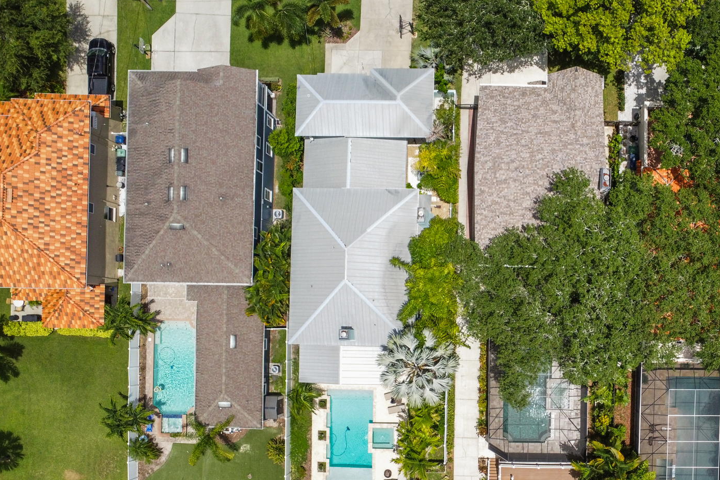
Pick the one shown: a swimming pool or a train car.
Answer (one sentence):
There is a swimming pool in the scene.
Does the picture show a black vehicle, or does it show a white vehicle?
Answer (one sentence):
Of the two, only a black vehicle appears.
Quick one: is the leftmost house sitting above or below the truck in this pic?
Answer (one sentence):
You can see the leftmost house below the truck in the frame.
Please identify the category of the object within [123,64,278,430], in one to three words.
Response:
house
